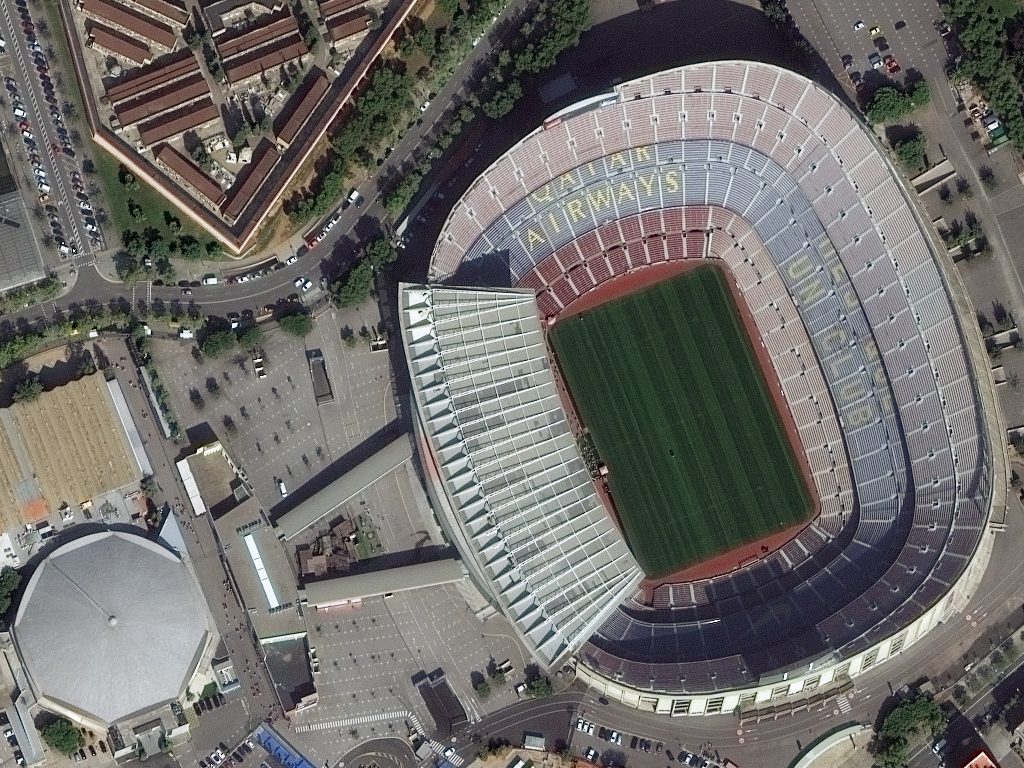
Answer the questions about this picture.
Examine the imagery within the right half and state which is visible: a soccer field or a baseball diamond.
soccer field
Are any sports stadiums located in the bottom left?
Yes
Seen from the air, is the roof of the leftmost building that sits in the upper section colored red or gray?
gray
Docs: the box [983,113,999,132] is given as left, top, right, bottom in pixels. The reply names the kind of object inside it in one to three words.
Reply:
vehicle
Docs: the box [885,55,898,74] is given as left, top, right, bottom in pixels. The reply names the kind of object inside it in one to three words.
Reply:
vehicle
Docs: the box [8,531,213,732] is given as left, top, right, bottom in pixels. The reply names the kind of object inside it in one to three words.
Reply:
stadium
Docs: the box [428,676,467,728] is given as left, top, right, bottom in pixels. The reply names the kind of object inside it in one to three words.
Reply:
building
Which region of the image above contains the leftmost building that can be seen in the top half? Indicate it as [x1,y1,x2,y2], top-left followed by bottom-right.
[0,191,46,296]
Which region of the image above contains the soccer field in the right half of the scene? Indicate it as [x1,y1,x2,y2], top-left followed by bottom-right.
[540,257,821,593]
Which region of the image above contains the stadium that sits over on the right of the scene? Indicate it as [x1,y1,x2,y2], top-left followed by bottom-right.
[399,59,1004,715]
